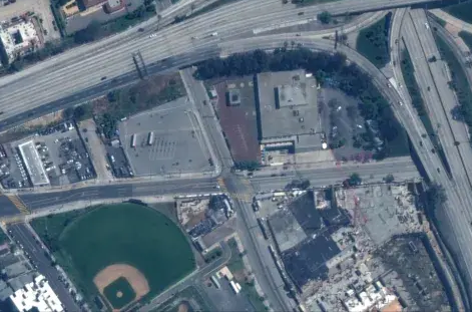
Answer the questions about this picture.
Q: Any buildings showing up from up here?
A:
Yes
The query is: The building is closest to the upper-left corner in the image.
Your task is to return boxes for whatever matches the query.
[0,21,44,65]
